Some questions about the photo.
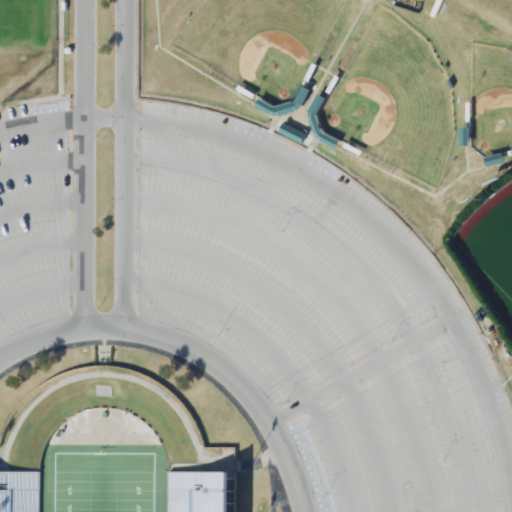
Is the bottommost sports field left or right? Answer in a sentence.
The bottommost sports field appears in the left half of the scene.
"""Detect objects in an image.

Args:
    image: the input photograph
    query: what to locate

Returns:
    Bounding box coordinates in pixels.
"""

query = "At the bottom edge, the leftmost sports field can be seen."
[43,407,167,512]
